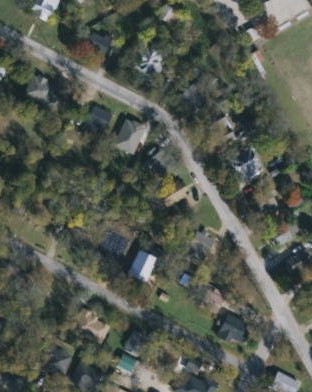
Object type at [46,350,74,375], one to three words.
house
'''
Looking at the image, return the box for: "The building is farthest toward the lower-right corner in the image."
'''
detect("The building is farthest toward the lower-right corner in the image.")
[270,370,302,392]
